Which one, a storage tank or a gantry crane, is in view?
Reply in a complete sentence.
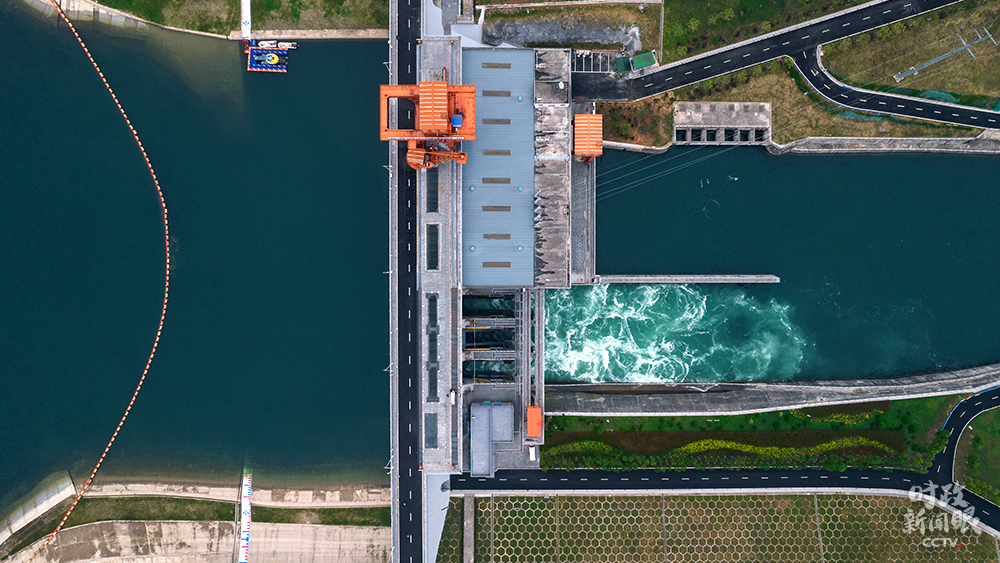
Looking from above, you can make out a gantry crane.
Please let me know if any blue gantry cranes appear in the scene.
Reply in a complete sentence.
No, the frame has no blue gantry crane in it.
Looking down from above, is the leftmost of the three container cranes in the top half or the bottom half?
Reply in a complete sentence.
Seen from above, the leftmost of the three container cranes lies in the top half of the view.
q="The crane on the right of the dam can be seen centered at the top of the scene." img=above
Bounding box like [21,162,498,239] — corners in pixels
[573,114,603,168]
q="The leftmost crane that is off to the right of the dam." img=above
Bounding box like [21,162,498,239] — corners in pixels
[523,400,545,437]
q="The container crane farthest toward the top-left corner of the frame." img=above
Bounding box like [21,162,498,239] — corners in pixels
[380,65,477,169]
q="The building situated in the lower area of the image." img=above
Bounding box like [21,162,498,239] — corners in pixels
[471,402,514,476]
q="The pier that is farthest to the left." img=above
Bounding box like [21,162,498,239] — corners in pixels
[247,48,289,72]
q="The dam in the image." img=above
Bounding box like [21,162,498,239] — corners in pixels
[390,0,493,563]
